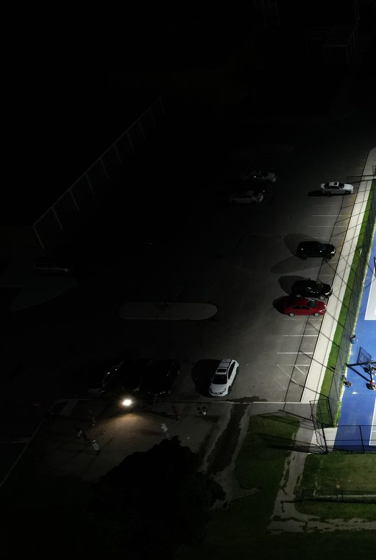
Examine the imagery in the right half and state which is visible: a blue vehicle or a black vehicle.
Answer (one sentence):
The feature located in the right half is a black vehicle.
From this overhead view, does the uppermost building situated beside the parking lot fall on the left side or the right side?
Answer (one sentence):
The uppermost building situated beside the parking lot is on the right side of the image.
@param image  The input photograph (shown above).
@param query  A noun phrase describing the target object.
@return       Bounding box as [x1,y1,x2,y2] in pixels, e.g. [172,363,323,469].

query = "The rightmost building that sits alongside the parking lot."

[221,22,358,62]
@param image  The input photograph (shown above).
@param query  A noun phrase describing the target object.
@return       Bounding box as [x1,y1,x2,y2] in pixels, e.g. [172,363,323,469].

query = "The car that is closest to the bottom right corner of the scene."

[209,355,240,393]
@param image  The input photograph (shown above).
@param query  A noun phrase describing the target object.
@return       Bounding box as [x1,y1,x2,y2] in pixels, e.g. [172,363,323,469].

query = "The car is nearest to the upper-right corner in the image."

[320,181,354,195]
